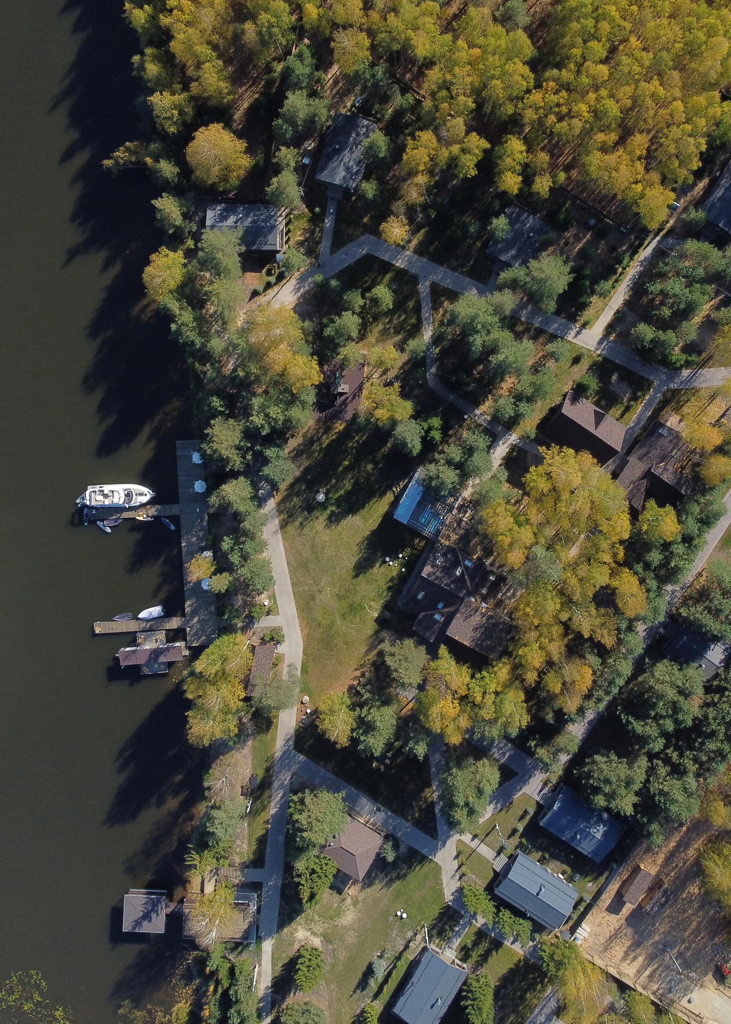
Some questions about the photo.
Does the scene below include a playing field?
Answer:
No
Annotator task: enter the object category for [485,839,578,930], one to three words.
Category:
building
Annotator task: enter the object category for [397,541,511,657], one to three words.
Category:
building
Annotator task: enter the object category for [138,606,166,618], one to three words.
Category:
boat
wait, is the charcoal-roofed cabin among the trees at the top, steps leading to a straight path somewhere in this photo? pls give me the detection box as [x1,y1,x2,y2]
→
[314,113,377,199]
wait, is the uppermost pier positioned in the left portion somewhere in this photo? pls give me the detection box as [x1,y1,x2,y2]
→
[88,504,180,520]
